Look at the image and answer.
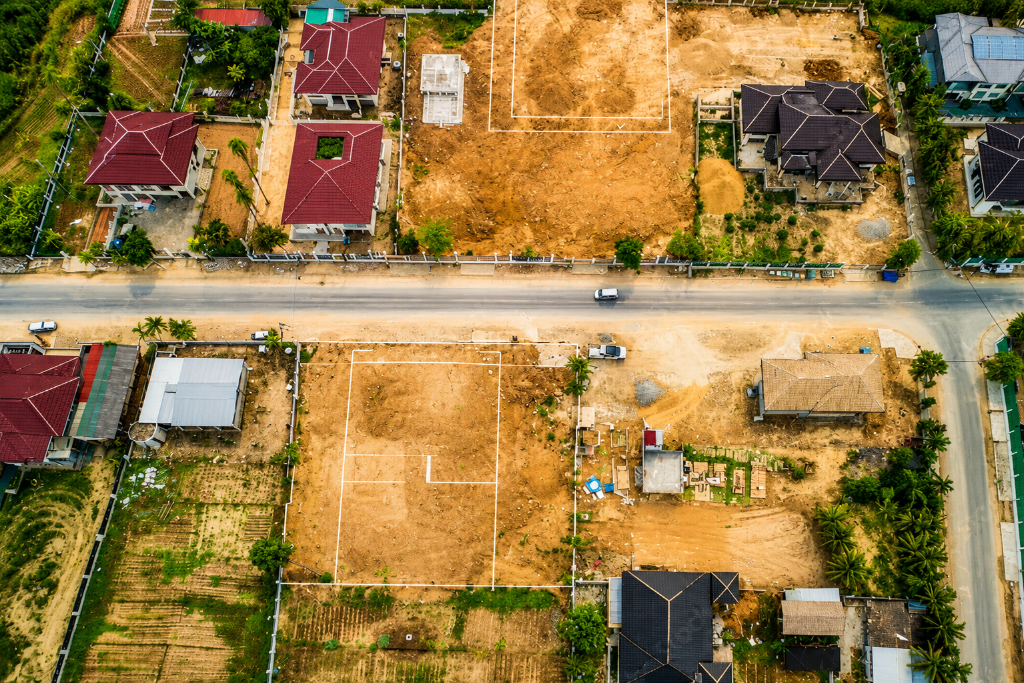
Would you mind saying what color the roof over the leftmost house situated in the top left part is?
red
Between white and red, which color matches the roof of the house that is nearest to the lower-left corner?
red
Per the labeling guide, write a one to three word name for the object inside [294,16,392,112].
house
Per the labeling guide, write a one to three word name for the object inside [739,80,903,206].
house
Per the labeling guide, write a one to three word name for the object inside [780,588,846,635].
barn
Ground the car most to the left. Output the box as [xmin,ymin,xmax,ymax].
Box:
[30,321,58,334]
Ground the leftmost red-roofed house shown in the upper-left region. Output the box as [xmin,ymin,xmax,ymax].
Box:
[83,111,218,209]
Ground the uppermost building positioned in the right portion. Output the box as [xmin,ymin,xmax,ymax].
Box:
[919,12,1024,102]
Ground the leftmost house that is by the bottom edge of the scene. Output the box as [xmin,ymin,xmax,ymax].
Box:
[607,571,739,683]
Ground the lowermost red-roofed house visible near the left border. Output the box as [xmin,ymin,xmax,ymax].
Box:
[0,341,86,466]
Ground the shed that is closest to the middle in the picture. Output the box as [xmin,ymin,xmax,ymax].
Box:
[635,417,683,496]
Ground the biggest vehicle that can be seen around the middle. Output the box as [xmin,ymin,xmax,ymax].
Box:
[589,346,625,360]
